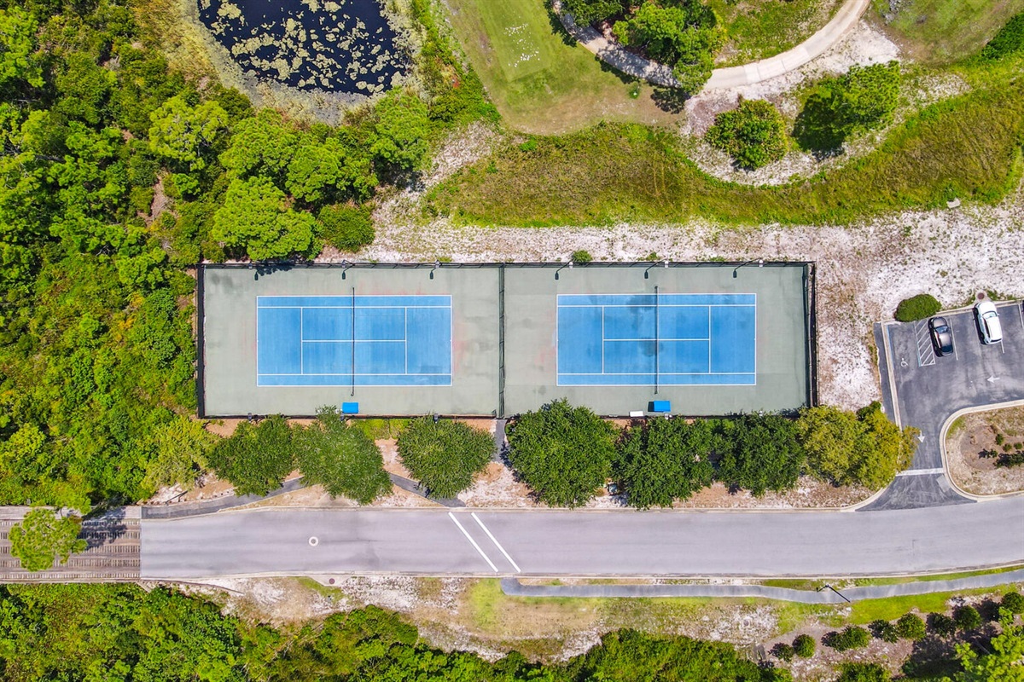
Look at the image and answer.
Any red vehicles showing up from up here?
No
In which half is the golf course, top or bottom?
top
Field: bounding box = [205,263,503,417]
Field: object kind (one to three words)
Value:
tennis court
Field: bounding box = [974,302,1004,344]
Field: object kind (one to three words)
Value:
car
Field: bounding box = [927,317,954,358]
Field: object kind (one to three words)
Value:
car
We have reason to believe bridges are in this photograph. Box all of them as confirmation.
[0,505,141,584]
